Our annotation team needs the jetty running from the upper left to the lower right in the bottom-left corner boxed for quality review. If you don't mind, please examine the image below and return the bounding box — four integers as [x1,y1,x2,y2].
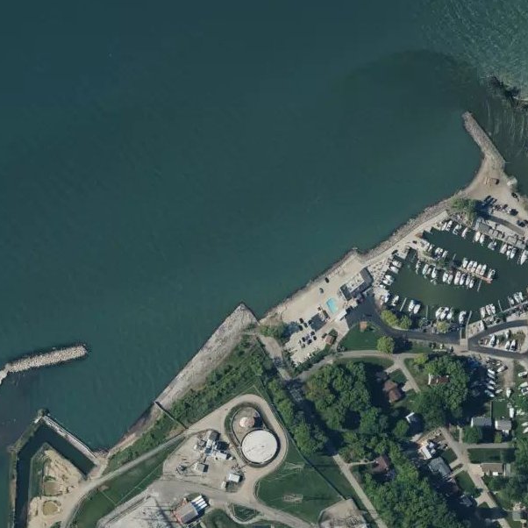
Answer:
[41,415,101,462]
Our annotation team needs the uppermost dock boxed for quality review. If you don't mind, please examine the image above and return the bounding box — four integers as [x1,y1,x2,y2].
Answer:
[463,111,504,167]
